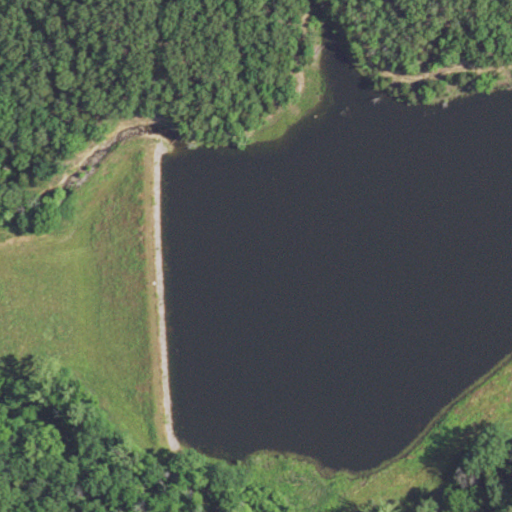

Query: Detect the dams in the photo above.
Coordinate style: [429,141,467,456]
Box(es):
[94,136,181,454]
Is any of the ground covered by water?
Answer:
Yes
